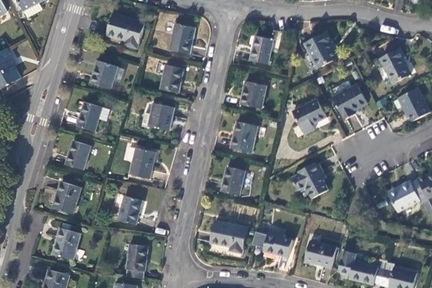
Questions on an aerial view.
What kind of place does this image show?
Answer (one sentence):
This looks like a residential area.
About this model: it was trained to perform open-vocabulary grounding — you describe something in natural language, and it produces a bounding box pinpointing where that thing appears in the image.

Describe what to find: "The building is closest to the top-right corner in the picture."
[376,48,410,84]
